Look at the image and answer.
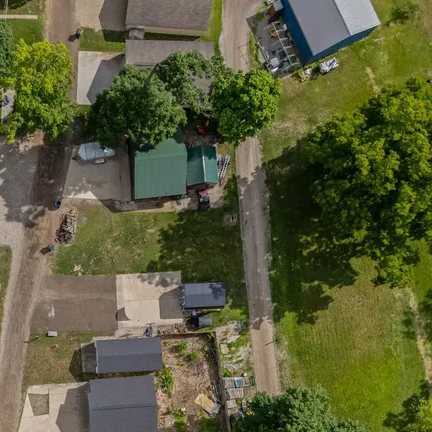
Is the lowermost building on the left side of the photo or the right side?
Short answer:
left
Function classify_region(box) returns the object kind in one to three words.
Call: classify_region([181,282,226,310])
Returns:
shed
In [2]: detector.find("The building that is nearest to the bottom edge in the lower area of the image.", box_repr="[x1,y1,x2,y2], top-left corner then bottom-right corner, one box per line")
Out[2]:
[89,376,157,432]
